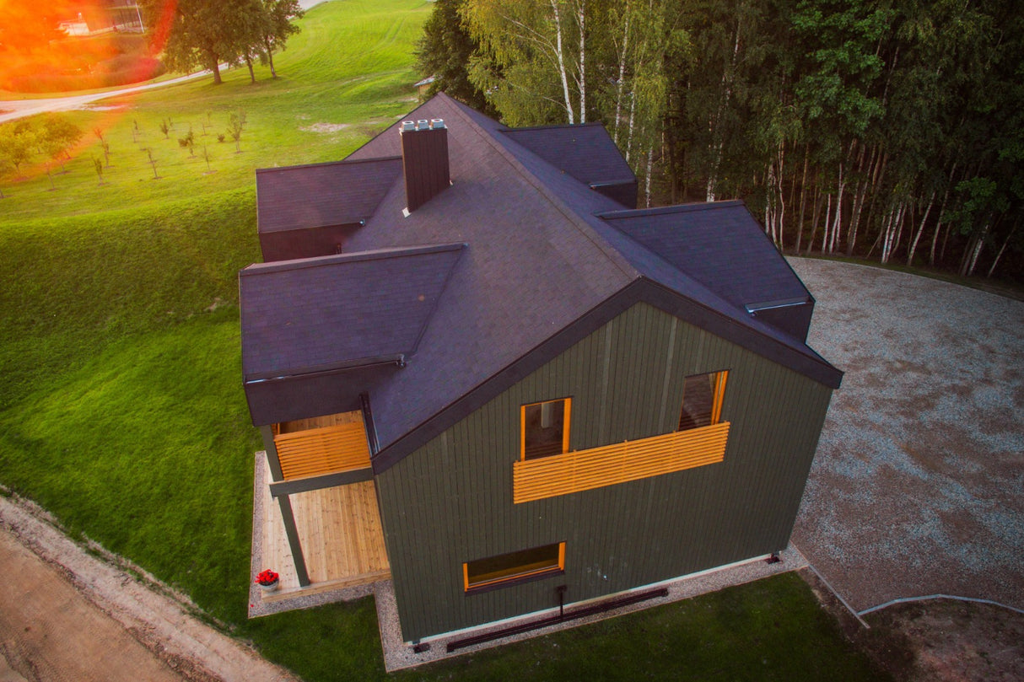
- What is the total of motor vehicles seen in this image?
none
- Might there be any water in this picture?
No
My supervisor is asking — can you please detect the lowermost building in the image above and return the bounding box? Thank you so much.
[239,90,847,646]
